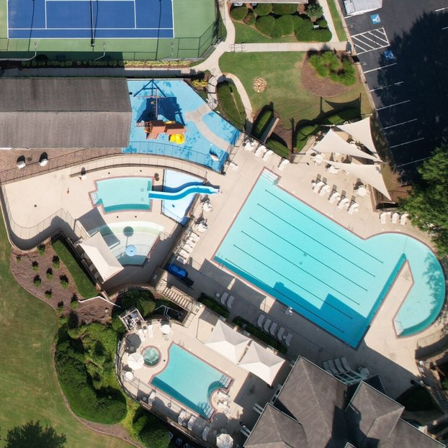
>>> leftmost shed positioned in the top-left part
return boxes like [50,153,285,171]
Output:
[0,78,133,147]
